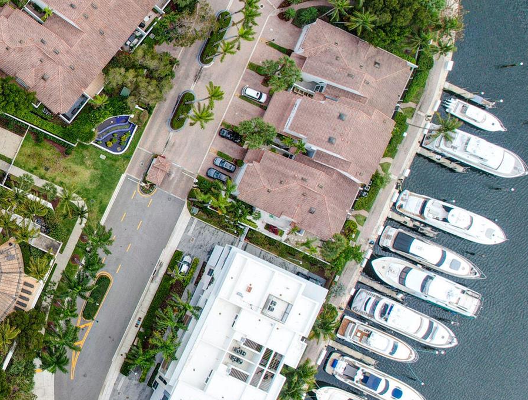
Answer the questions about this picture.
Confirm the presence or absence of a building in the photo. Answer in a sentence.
Yes, the photo shows a building.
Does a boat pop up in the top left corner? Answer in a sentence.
No, there's no boat to be seen in the top left corner.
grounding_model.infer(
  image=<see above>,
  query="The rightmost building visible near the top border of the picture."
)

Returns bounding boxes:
[285,18,410,118]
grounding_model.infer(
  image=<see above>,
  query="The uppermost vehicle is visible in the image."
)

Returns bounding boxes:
[241,86,267,102]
